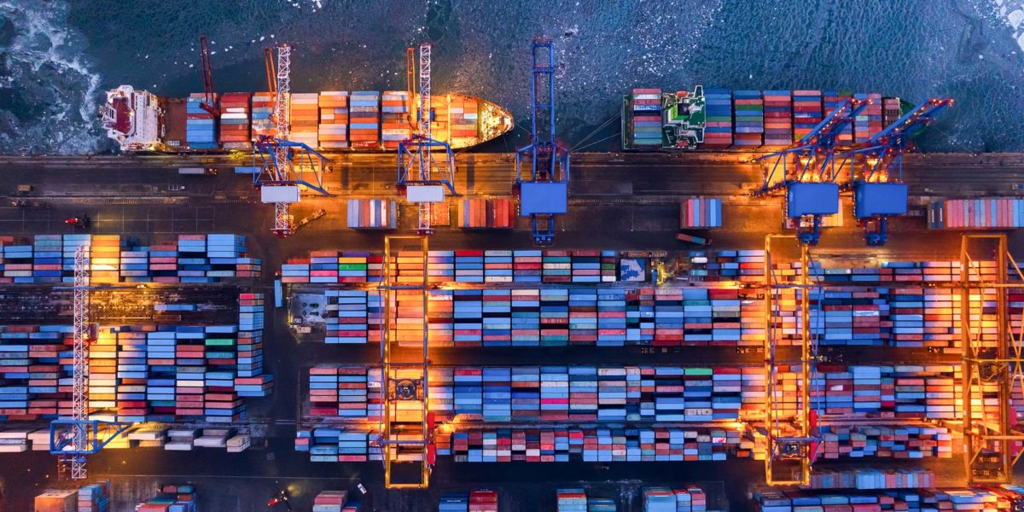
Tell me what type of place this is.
port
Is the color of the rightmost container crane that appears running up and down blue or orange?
orange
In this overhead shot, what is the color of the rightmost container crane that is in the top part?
blue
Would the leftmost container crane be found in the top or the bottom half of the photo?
bottom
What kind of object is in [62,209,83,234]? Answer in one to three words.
work vehicle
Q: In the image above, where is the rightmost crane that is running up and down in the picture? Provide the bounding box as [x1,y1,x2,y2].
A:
[929,236,1024,487]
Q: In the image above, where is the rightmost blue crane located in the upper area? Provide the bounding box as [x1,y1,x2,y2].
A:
[811,98,954,254]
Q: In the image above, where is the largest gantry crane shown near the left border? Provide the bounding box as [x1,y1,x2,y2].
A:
[48,245,144,478]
